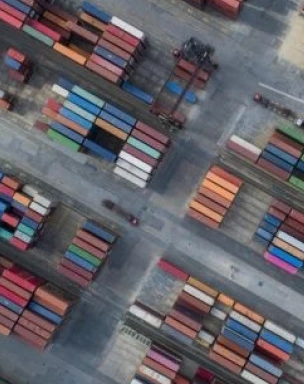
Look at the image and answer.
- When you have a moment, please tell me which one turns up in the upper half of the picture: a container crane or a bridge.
container crane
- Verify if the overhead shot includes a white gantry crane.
No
